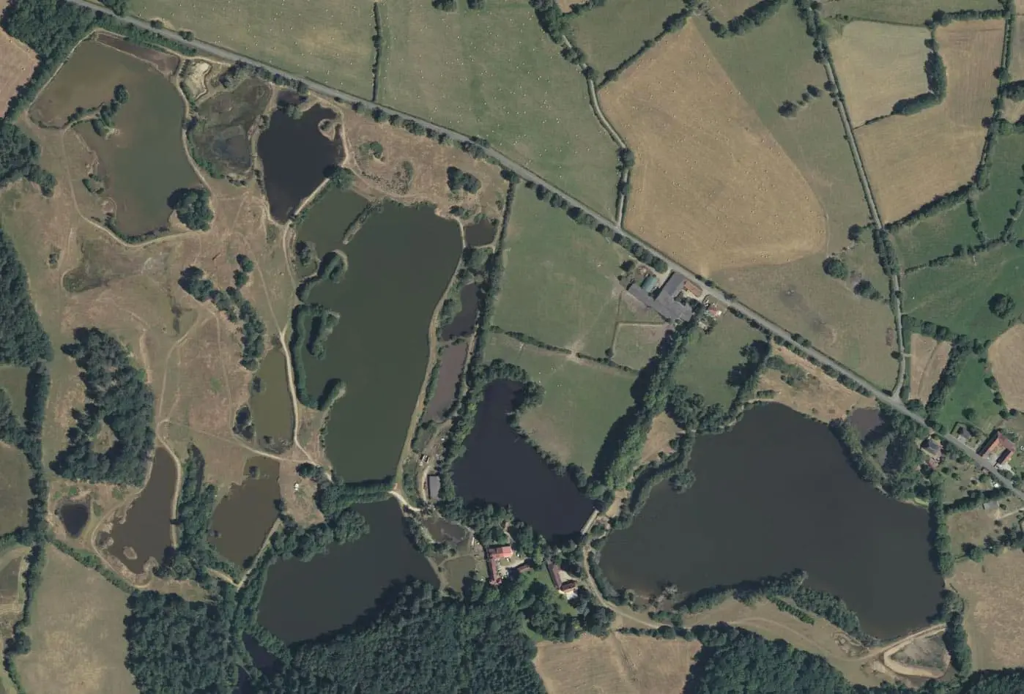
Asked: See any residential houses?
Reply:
Yes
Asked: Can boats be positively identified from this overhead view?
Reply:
No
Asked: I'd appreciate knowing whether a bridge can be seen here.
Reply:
No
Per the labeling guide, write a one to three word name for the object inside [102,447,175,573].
pond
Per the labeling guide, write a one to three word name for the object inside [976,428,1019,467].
house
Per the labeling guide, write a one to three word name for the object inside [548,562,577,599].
house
